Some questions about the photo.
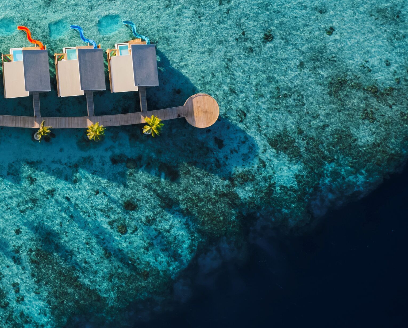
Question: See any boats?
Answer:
No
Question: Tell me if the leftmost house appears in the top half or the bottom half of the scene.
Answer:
top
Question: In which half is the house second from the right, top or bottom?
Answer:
top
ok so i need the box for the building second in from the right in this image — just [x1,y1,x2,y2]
[55,25,106,97]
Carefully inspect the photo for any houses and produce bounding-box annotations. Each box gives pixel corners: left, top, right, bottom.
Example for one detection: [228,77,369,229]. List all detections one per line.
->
[55,25,106,97]
[107,20,159,92]
[1,26,51,98]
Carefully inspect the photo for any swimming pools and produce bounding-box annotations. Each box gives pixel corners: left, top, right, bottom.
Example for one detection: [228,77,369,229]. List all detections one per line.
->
[63,46,77,59]
[114,42,129,55]
[10,48,23,61]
